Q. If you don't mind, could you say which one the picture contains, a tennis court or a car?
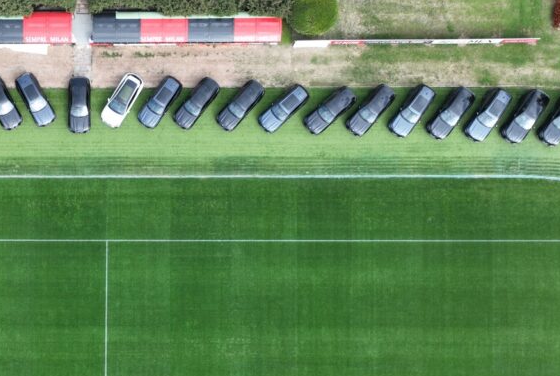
car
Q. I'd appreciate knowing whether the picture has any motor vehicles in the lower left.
No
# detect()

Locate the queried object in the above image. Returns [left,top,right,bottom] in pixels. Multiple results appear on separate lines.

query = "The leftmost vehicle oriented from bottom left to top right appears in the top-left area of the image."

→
[101,73,144,130]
